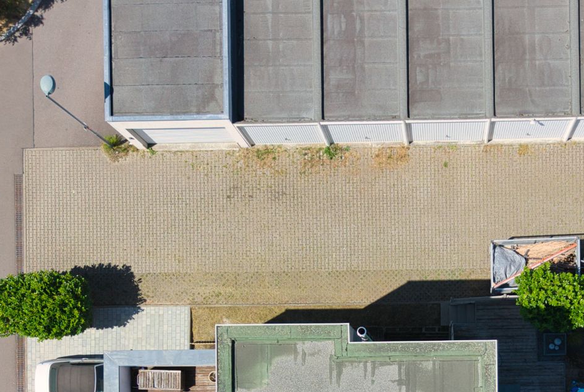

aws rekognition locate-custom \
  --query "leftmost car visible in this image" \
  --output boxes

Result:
[35,349,104,392]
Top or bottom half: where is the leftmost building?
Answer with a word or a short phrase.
top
